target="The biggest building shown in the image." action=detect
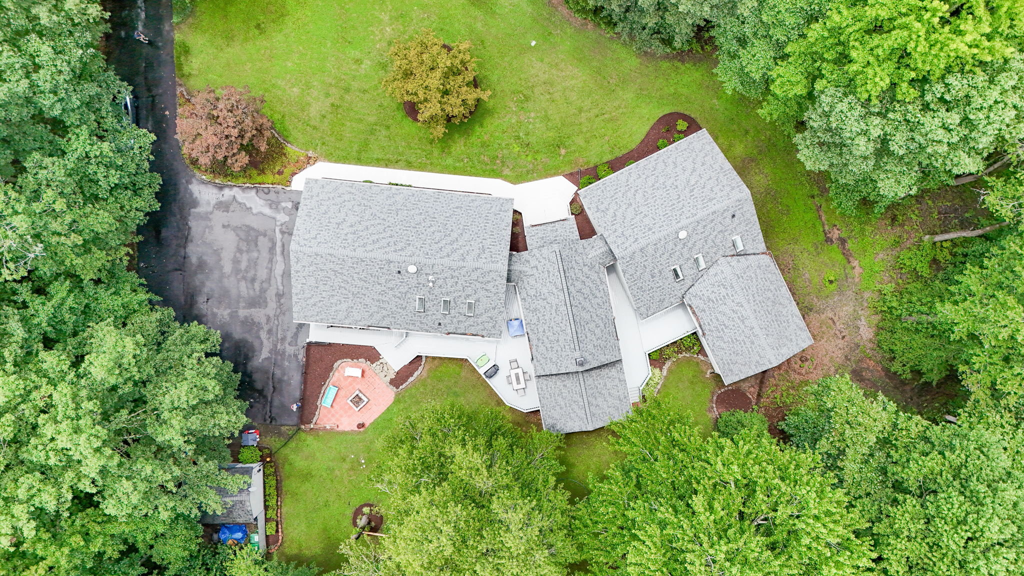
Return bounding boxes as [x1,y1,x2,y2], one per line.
[291,127,815,431]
